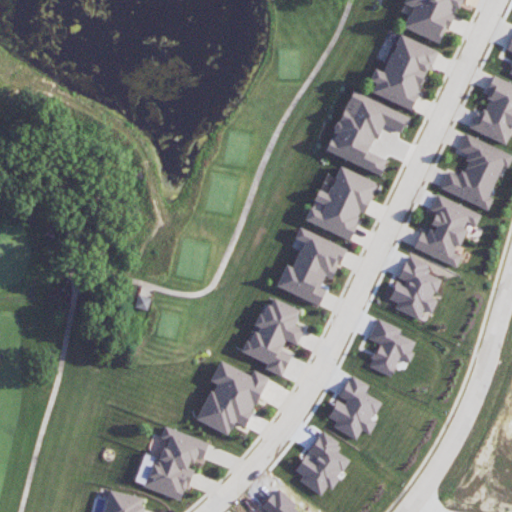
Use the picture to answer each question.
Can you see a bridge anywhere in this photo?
No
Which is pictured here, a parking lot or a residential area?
residential area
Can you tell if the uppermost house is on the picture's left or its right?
right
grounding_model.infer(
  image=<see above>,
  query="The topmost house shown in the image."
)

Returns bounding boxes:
[403,0,468,48]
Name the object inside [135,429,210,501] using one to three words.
house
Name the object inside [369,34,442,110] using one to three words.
house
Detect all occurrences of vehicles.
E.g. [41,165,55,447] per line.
[246,469,261,482]
[356,230,364,236]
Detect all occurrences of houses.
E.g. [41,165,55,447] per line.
[388,252,443,320]
[369,34,442,110]
[365,320,418,380]
[195,362,270,435]
[328,375,386,442]
[403,0,468,48]
[470,76,512,147]
[306,167,378,241]
[324,94,410,175]
[266,488,302,512]
[276,228,344,307]
[442,136,511,209]
[241,298,306,379]
[296,430,354,498]
[86,486,149,512]
[414,195,483,266]
[135,429,210,501]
